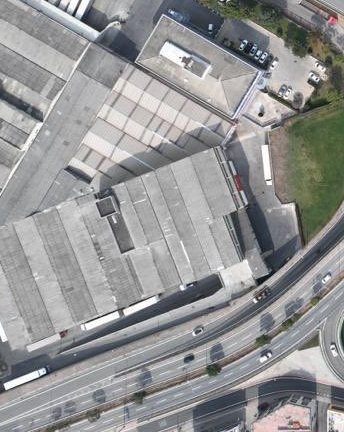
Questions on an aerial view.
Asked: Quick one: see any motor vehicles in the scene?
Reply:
Yes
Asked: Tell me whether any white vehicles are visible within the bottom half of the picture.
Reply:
Yes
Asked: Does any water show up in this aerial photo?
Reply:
No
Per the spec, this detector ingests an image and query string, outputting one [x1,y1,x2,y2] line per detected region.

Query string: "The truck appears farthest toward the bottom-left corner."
[1,365,52,391]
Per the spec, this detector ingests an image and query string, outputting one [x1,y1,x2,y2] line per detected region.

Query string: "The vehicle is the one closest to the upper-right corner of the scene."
[298,0,337,23]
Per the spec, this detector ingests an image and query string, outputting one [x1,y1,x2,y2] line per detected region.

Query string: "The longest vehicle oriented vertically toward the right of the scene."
[259,143,274,184]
